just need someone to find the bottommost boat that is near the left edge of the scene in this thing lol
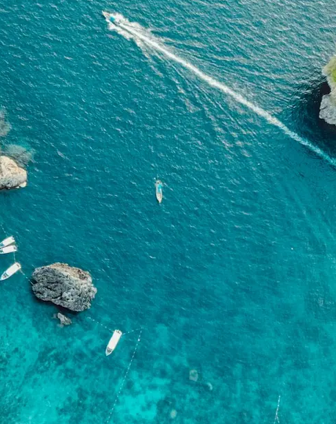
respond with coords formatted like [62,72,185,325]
[0,261,22,279]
